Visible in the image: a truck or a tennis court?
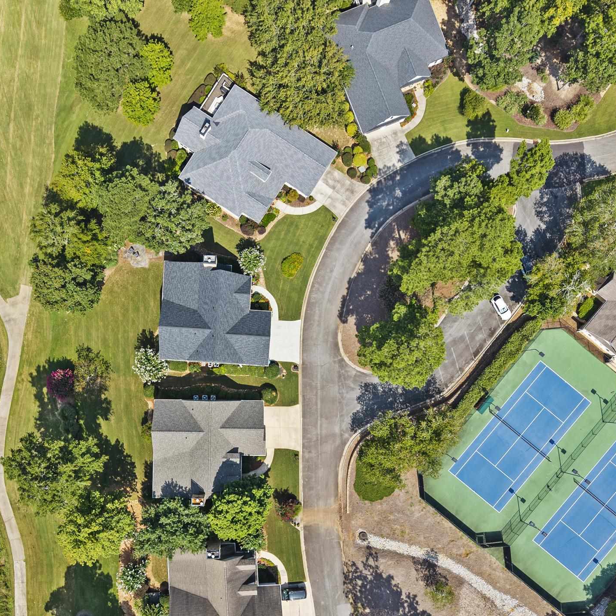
tennis court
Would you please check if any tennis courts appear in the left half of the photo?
No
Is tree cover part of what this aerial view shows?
Yes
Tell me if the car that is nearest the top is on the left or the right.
right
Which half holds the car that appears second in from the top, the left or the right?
right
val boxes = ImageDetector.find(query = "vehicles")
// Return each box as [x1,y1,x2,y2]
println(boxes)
[488,293,510,321]
[282,588,309,603]
[517,249,538,276]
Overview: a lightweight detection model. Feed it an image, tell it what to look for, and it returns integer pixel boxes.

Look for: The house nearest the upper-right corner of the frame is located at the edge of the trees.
[331,0,451,137]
